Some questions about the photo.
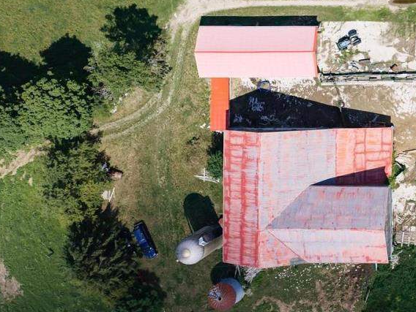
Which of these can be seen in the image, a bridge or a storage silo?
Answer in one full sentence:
The one in the frame is a storage silo.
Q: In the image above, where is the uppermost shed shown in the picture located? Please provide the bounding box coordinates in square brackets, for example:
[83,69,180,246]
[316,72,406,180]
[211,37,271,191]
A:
[194,26,321,77]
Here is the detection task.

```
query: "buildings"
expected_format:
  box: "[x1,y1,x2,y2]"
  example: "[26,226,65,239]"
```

[223,127,393,271]
[194,26,321,77]
[209,78,233,126]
